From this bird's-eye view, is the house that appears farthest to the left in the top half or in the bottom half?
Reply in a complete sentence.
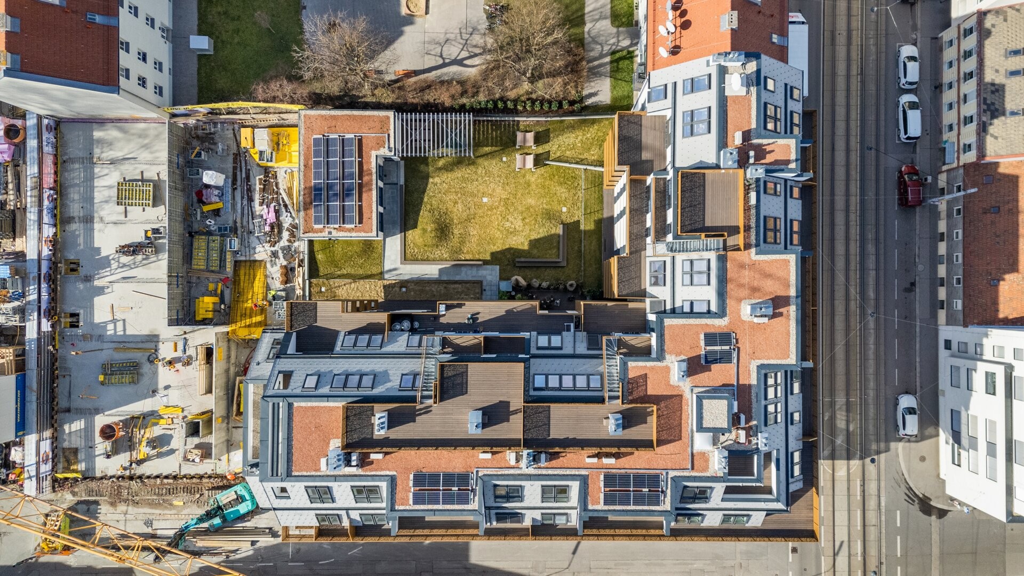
The top half of the photo is where the house that appears farthest to the left is.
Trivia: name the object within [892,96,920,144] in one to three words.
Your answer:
car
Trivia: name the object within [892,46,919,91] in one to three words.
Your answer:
car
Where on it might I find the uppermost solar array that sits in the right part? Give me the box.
[698,332,736,364]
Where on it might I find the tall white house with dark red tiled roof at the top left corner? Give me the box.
[0,0,173,120]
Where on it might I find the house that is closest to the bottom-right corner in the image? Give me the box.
[936,327,1024,522]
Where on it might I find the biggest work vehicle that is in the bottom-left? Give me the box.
[159,479,257,564]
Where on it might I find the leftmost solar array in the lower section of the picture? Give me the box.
[408,472,476,505]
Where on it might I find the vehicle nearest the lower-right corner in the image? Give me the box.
[891,393,918,437]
